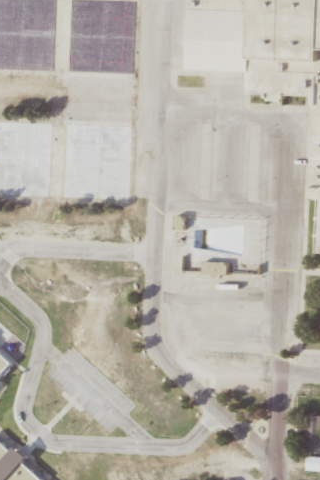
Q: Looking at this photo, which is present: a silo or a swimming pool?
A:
swimming pool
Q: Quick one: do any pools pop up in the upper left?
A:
No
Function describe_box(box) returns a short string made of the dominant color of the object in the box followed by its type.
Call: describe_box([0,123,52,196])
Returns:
white sports court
